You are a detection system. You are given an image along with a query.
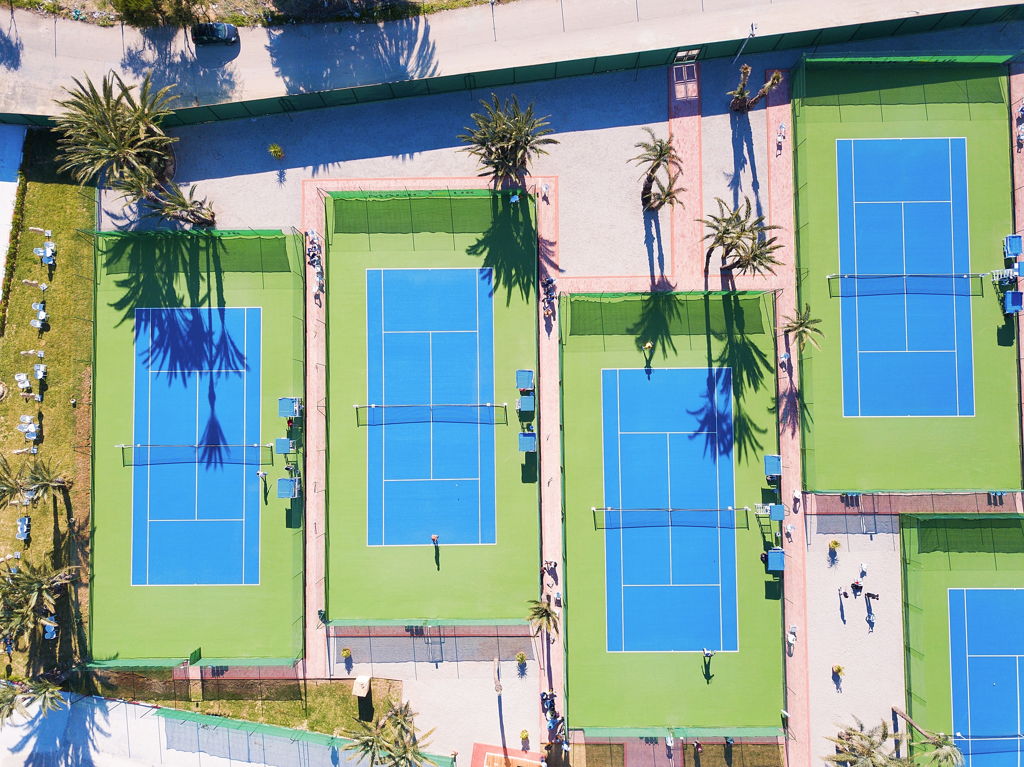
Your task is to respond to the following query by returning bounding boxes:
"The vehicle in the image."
[191,19,238,47]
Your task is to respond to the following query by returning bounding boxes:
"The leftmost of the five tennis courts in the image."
[88,236,306,660]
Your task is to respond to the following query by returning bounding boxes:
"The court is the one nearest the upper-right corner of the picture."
[791,69,1024,490]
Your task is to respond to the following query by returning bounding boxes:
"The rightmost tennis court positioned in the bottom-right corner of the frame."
[897,512,1024,767]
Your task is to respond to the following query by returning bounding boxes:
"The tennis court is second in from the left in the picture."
[324,196,542,622]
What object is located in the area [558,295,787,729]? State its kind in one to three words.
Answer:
tennis court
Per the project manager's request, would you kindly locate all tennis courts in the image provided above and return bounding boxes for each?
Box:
[558,295,787,729]
[324,196,542,622]
[88,236,306,660]
[791,69,1024,490]
[897,512,1024,767]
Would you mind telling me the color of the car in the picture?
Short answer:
black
